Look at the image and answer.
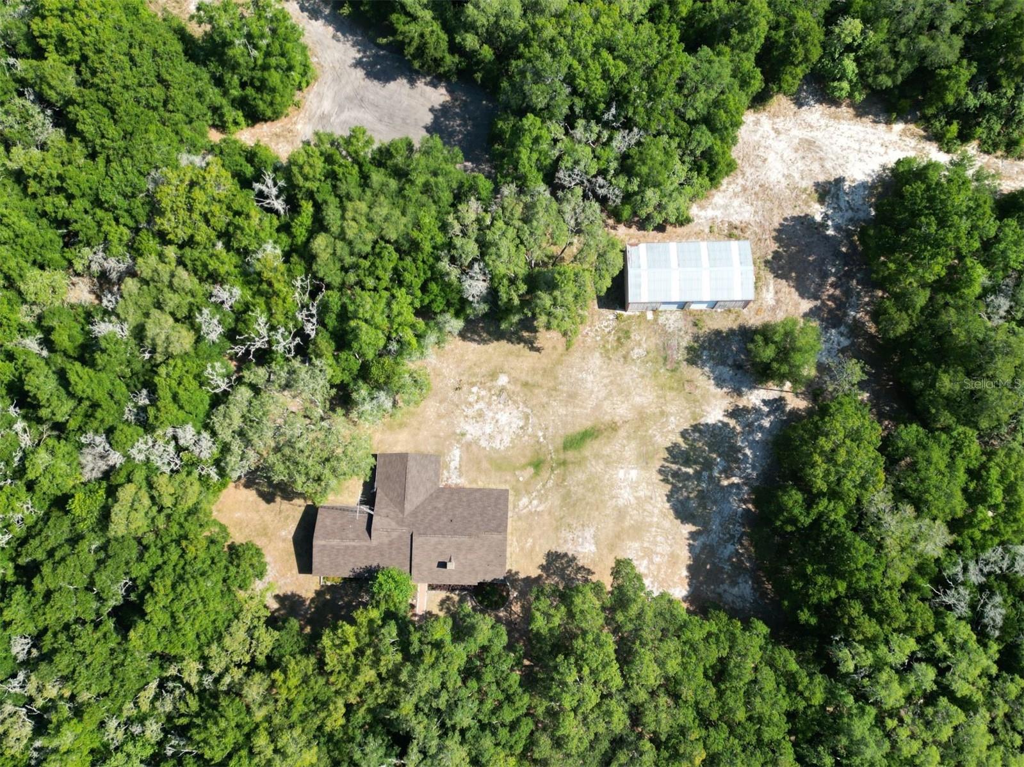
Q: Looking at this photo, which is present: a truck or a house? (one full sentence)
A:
Of the two, only a house appears.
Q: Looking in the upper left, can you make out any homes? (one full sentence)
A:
No, the scene shows no home in the upper left.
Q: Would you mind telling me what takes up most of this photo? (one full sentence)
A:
For the most part, this view shows trees.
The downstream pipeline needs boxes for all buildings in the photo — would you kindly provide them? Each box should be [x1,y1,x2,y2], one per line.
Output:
[623,241,756,313]
[311,453,509,585]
